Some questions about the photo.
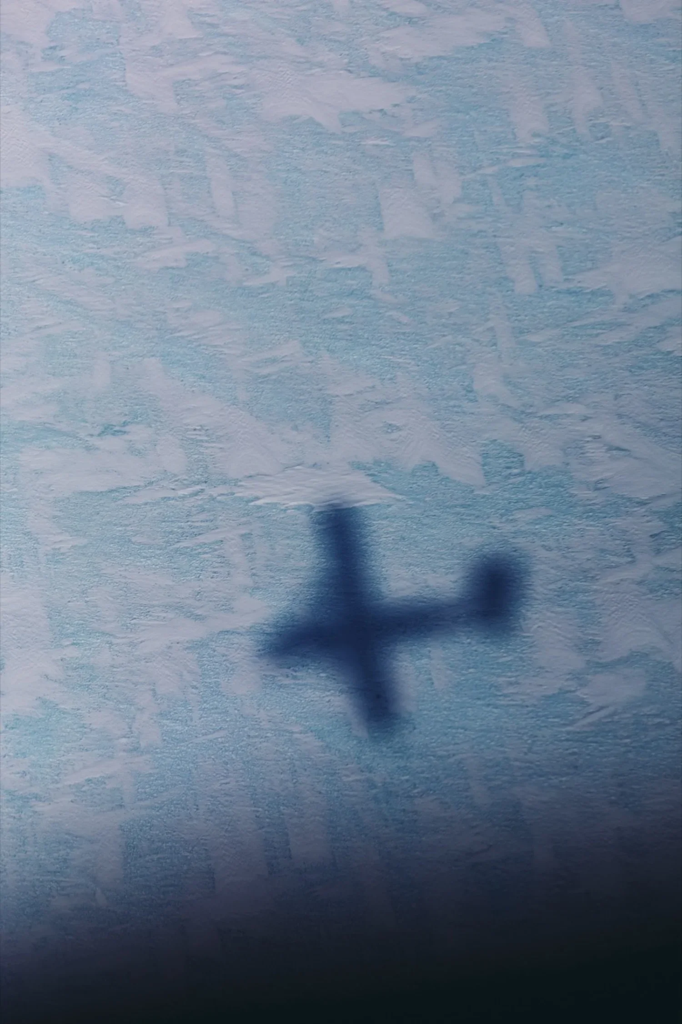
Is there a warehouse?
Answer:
No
